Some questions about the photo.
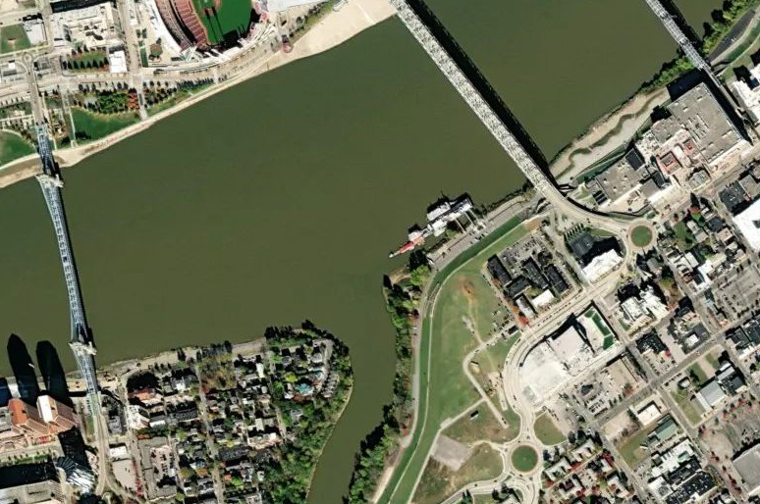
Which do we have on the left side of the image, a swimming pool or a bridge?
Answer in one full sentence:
It is a bridge that can be seen on the left side of the image.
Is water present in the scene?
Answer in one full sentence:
Yes, water shows up in the scene.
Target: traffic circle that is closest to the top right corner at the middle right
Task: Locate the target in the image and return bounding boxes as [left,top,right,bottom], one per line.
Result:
[627,220,657,250]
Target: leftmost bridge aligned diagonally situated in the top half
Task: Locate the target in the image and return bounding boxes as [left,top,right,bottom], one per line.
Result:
[387,0,628,233]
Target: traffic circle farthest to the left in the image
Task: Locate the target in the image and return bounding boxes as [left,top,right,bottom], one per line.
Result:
[507,441,540,474]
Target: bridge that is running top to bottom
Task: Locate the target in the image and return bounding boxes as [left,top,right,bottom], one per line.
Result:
[25,59,109,448]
